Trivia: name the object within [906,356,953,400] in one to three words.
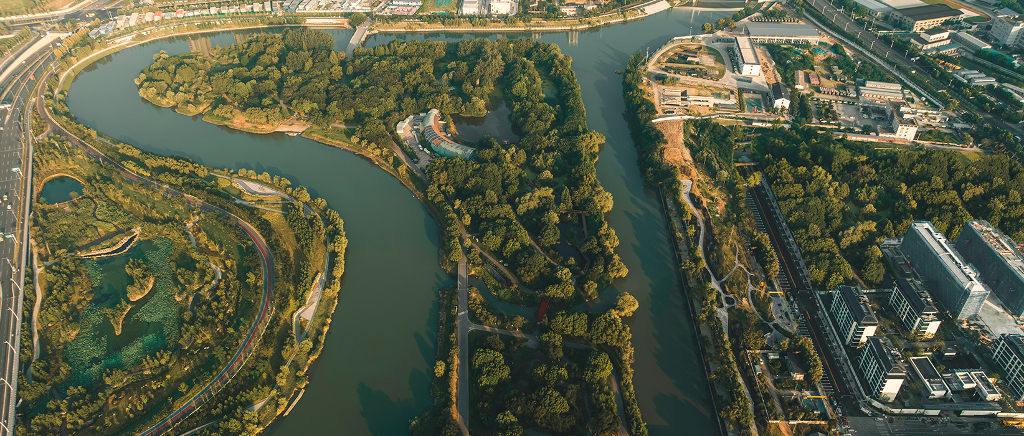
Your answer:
building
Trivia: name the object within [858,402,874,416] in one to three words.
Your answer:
vehicle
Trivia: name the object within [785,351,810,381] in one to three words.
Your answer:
house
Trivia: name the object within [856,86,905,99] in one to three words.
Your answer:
shed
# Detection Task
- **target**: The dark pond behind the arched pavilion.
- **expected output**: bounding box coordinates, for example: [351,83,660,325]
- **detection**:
[455,90,520,142]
